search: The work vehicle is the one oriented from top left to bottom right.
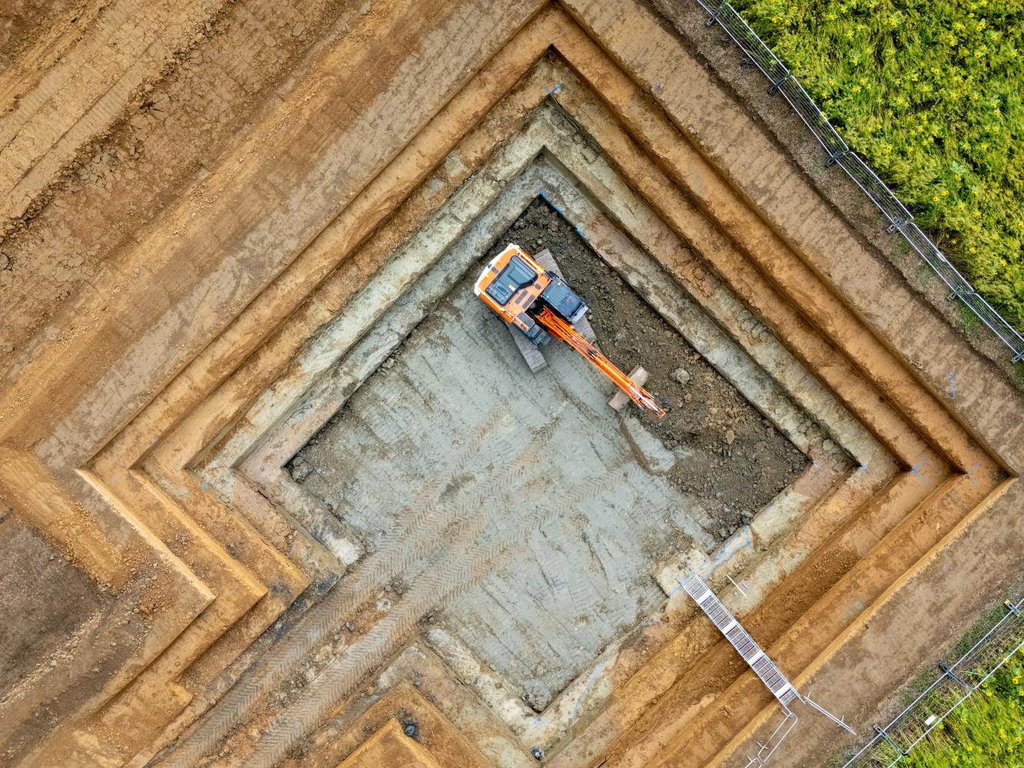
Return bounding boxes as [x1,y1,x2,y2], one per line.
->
[475,246,669,422]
